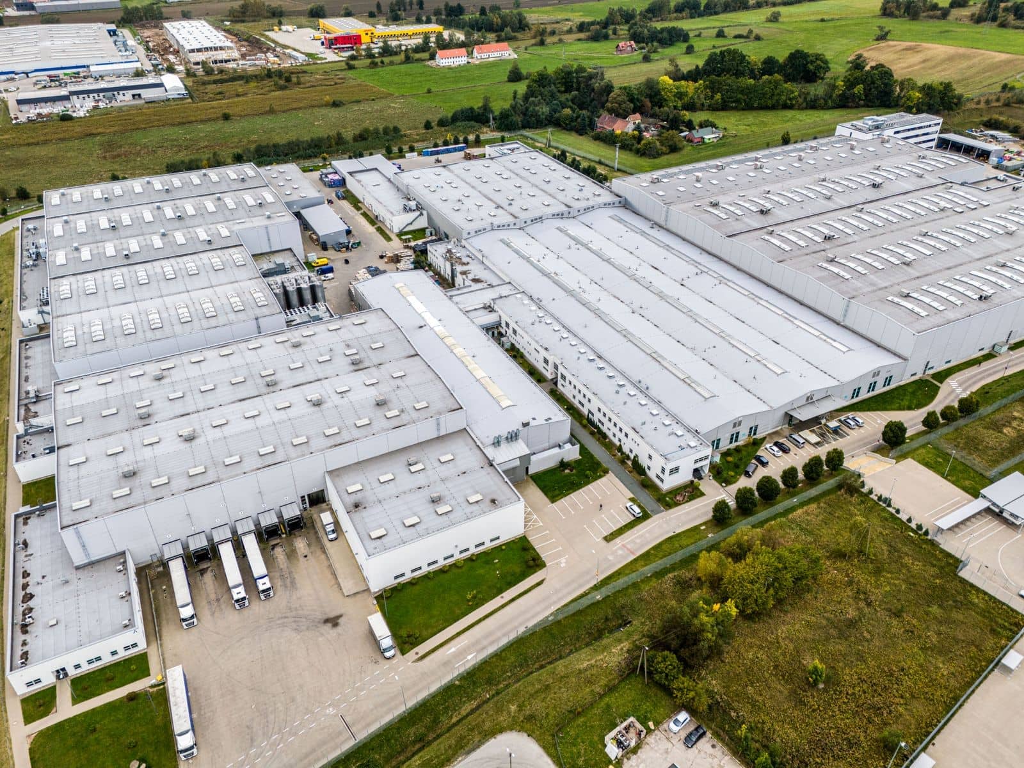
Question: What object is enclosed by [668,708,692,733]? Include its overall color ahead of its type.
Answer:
white car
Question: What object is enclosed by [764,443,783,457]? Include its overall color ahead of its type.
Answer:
white car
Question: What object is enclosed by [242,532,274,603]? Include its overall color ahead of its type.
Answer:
white truck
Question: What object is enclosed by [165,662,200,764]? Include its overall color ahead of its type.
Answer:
white truck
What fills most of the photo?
buildings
